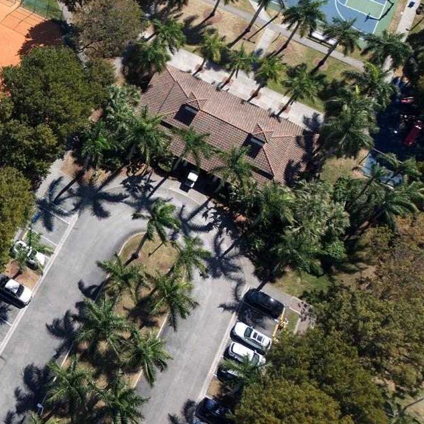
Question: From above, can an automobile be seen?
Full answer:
Yes, there's an automobile down there.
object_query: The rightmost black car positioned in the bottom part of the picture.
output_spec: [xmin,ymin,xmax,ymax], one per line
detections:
[243,287,285,318]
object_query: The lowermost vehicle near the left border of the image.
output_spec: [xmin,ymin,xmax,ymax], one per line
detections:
[0,273,31,305]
